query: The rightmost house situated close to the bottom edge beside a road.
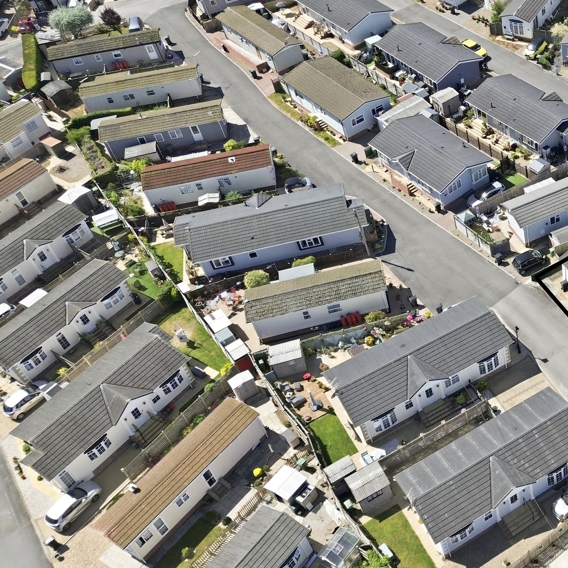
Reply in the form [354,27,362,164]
[393,387,568,556]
